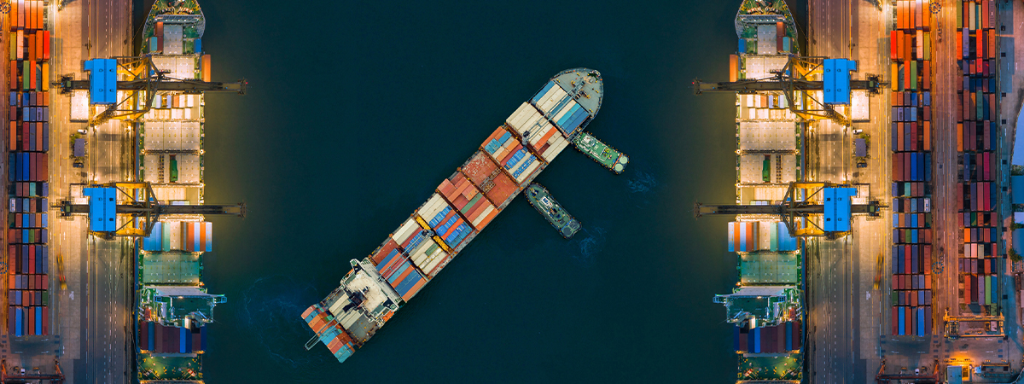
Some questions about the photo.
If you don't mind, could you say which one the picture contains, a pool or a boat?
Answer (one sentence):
It is a boat that can be seen here.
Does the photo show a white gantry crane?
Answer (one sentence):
No, this view has no white gantry crane in it.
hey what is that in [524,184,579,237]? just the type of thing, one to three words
boat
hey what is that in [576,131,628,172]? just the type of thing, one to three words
boat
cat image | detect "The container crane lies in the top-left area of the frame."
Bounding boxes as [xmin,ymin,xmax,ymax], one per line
[52,50,247,125]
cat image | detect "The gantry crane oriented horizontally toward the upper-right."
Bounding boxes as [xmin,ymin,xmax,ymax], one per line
[695,50,889,125]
